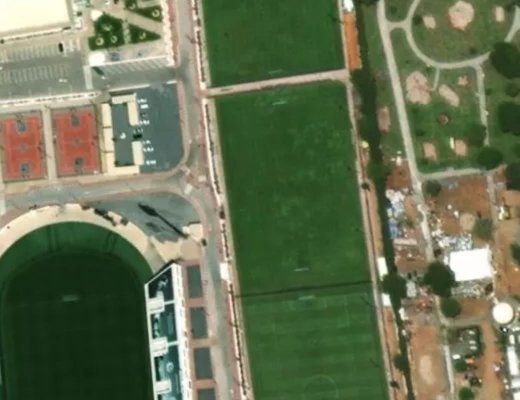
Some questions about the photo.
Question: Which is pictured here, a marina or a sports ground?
sports ground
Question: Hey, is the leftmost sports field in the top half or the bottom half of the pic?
bottom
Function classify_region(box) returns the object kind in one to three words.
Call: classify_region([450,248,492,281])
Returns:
building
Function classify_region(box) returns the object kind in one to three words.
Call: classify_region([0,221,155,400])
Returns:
sports field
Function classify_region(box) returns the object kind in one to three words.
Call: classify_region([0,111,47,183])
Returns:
basketball court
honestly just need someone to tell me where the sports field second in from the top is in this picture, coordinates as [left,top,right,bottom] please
[215,81,372,298]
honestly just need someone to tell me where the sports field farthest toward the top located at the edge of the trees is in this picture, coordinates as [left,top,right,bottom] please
[202,0,345,86]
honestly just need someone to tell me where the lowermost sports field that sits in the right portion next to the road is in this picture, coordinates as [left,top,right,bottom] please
[241,283,387,400]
